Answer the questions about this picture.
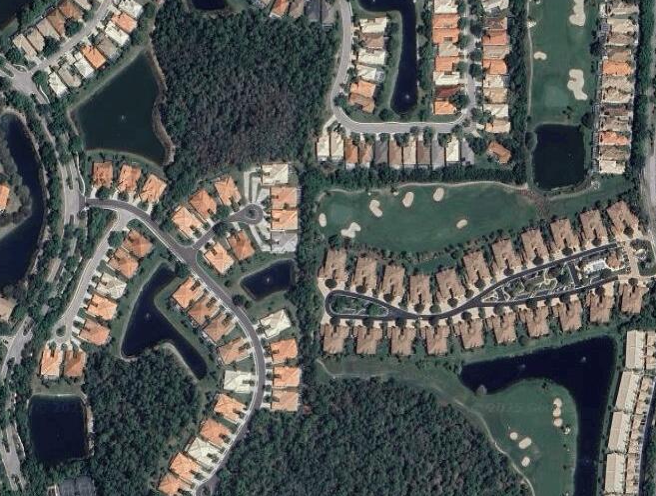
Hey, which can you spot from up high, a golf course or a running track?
golf course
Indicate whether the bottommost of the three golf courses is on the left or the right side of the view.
right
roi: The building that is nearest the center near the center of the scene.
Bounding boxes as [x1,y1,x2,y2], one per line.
[320,248,348,280]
